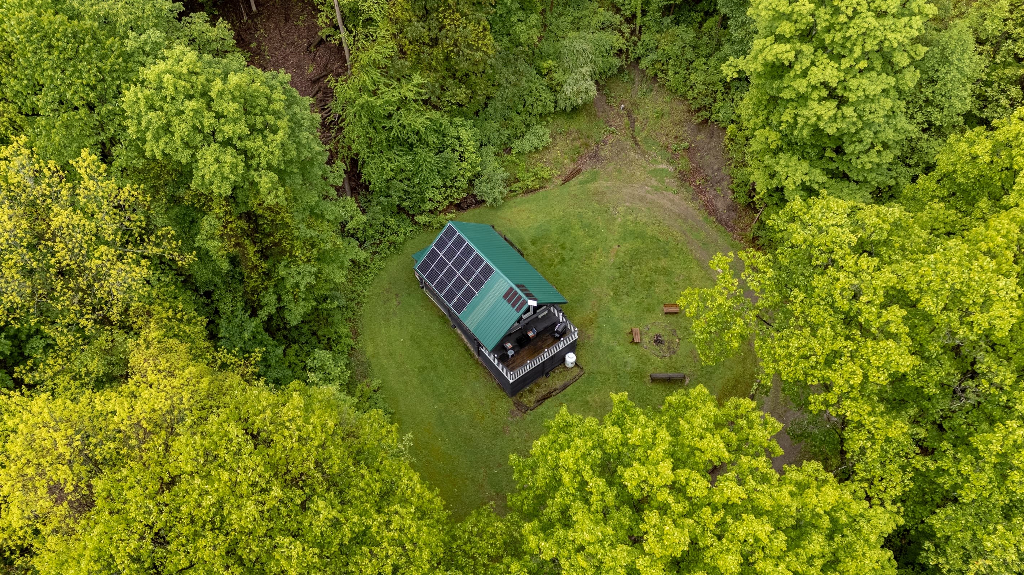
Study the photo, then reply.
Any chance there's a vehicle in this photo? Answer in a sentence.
No, the picture doesn't show any vehicle.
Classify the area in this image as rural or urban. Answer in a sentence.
From above, the setting appears rural.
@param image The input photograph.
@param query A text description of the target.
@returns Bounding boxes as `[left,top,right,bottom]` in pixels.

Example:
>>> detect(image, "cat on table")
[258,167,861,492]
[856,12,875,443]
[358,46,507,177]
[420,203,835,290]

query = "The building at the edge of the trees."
[412,219,577,398]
